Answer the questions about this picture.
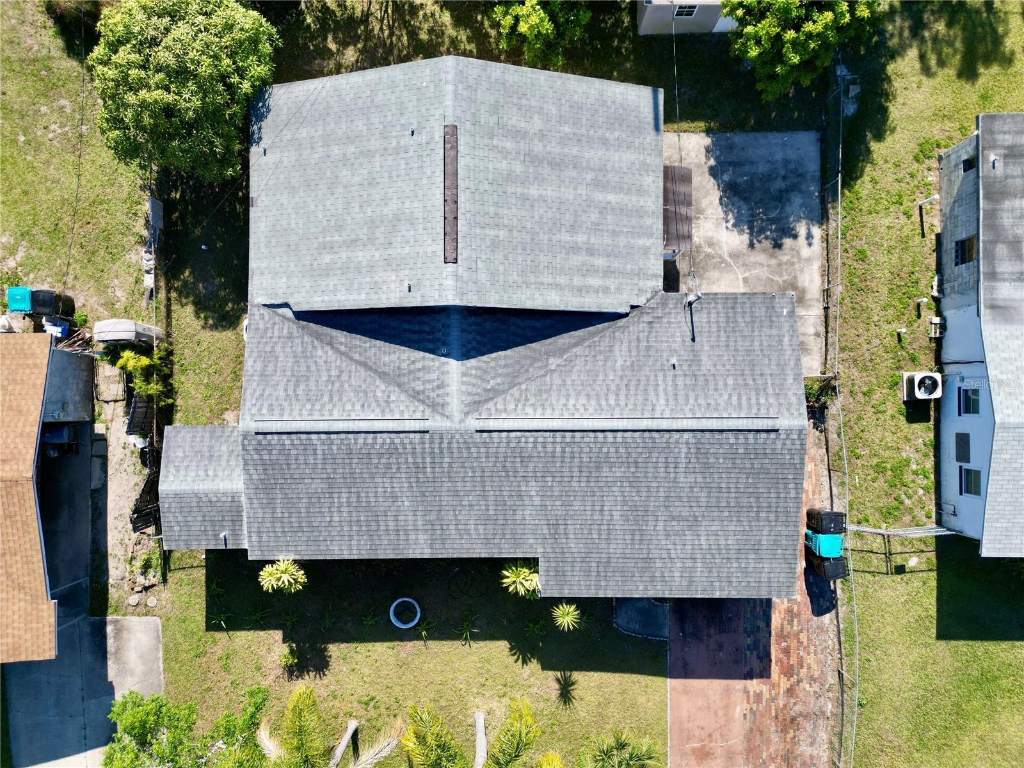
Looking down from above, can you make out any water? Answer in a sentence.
No, no water is visible.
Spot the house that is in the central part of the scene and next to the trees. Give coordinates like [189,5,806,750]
[159,55,807,597]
